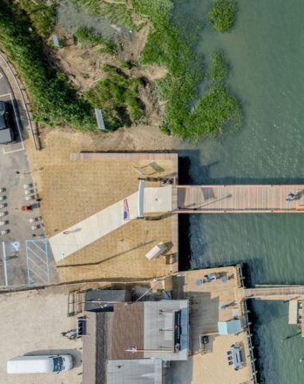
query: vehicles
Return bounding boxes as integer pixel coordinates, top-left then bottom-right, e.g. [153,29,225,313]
[4,352,74,375]
[61,331,78,338]
[0,96,18,149]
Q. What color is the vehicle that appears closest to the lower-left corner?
white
